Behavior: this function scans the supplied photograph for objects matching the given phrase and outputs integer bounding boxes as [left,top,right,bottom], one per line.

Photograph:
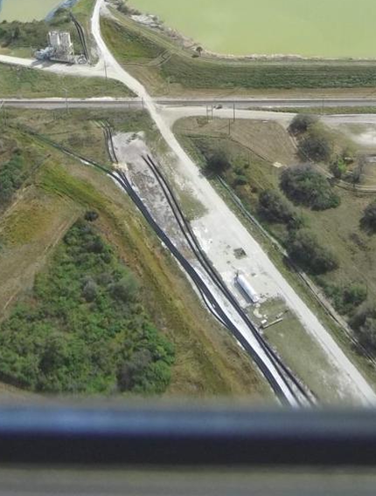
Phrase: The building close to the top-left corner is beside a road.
[40,34,74,67]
